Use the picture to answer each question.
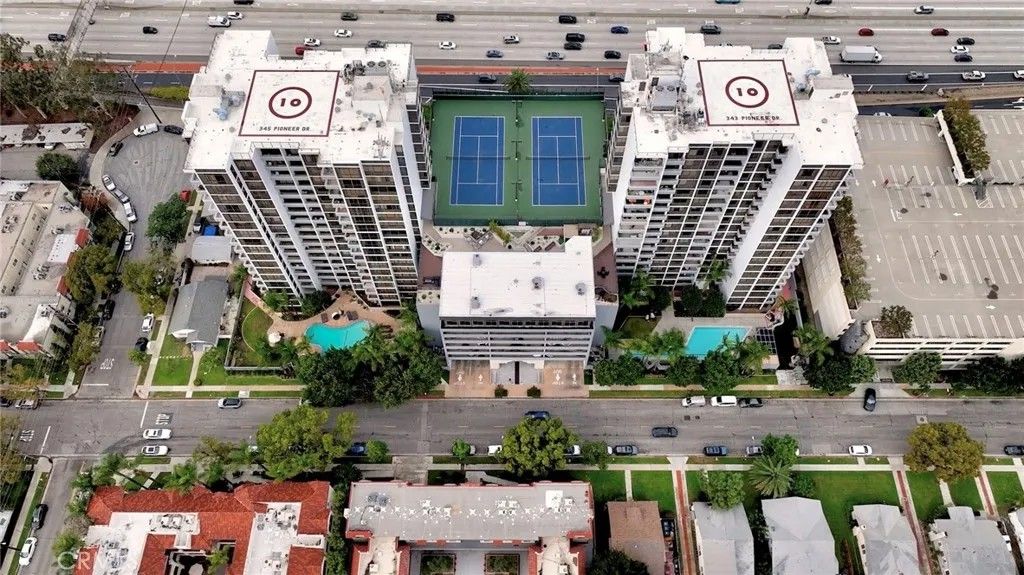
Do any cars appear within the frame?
Yes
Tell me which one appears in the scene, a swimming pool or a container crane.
swimming pool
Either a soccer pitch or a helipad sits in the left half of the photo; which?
helipad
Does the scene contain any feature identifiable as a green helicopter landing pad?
No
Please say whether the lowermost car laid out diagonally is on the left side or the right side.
left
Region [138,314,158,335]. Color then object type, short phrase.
white car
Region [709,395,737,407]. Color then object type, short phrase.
white vehicle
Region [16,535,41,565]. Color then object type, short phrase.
white car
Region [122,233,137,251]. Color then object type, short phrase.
gray car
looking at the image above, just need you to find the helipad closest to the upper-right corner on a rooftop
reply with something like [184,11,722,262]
[698,61,798,126]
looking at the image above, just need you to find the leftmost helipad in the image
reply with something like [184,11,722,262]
[240,71,339,137]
